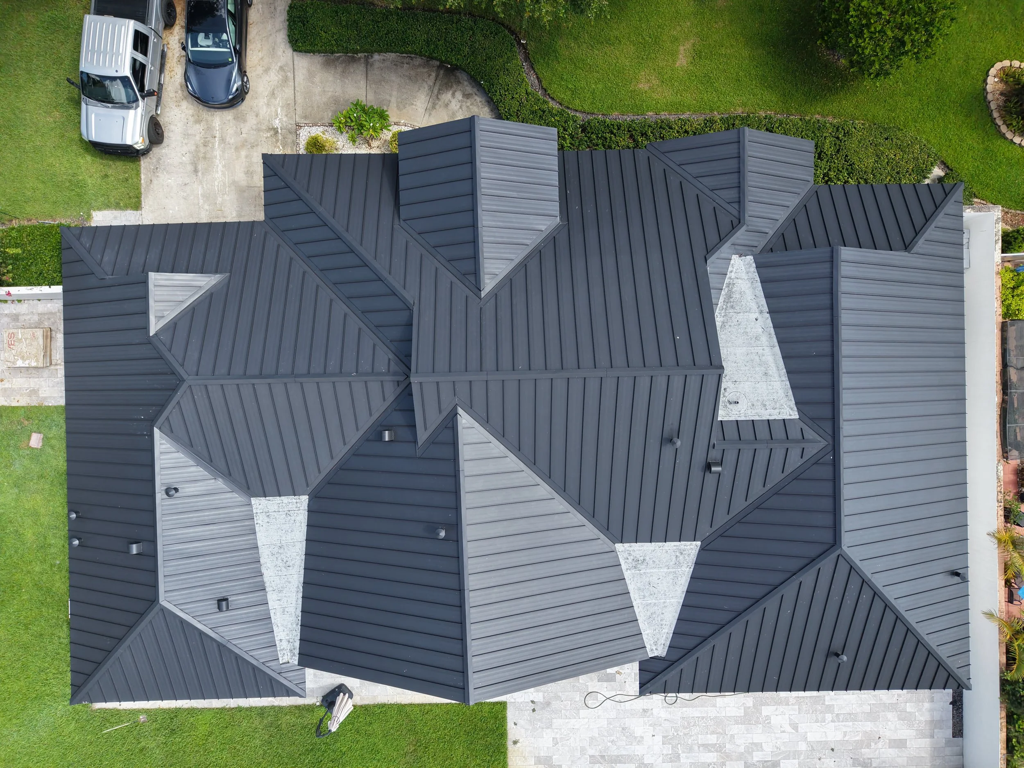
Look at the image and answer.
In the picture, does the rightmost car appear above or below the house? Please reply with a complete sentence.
You can see the rightmost car above the house in the frame.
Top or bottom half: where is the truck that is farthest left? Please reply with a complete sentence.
The truck that is farthest left is in the top half of the image.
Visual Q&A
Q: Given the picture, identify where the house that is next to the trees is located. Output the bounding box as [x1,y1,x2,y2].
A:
[59,114,974,706]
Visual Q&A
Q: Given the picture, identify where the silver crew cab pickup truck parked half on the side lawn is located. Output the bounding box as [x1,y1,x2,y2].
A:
[67,0,176,158]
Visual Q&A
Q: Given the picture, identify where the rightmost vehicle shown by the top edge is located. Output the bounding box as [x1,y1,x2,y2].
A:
[177,0,259,110]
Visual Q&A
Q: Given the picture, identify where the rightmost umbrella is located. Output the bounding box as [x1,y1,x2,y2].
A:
[315,685,354,739]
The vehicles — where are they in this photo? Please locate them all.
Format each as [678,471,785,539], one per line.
[177,0,259,110]
[67,0,176,158]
